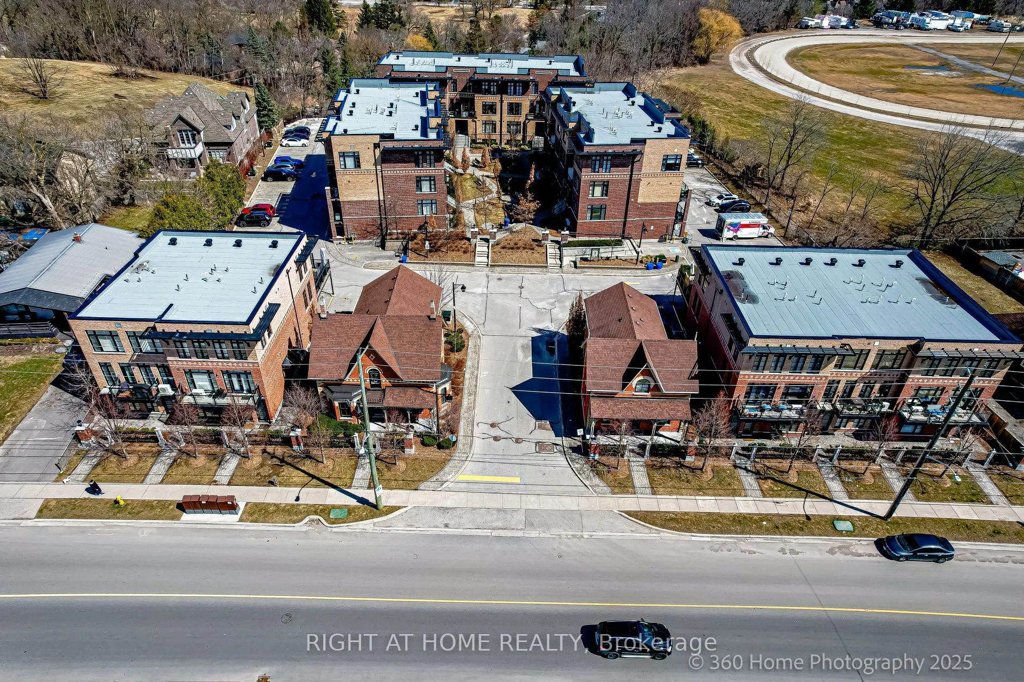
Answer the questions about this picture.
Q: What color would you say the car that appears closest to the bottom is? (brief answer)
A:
black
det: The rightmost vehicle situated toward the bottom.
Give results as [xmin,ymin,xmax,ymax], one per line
[878,534,954,568]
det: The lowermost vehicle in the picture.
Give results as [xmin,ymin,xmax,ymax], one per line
[595,621,668,661]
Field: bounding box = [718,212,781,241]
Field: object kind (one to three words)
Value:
truck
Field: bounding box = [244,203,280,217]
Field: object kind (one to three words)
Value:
car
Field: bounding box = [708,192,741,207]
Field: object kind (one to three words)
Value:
car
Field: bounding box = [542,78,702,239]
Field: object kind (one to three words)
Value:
building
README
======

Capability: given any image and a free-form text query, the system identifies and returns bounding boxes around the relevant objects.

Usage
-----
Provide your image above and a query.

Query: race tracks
[756,35,1024,125]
